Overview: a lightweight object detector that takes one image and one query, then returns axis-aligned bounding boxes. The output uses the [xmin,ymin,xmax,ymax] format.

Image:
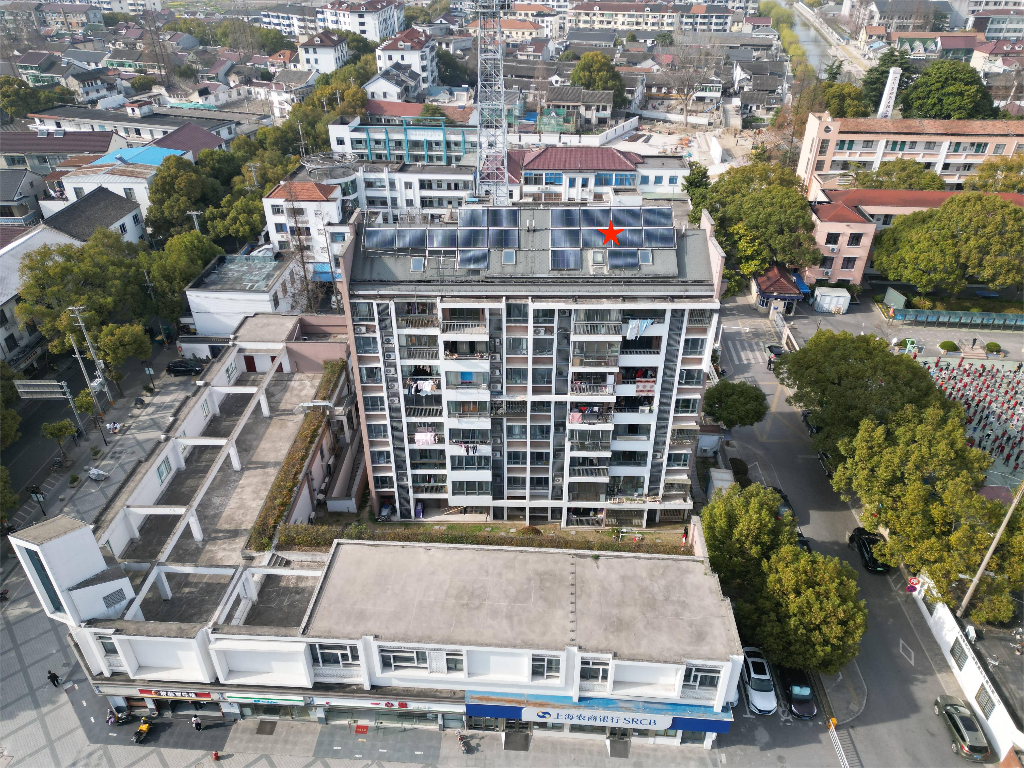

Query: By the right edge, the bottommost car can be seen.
[928,691,1000,760]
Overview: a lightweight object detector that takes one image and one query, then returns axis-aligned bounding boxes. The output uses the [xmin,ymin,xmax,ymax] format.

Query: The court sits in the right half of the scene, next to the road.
[777,350,1024,498]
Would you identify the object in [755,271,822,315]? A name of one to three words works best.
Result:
building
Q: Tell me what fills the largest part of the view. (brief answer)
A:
buildings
